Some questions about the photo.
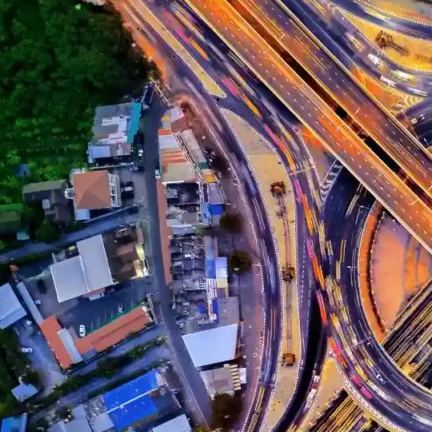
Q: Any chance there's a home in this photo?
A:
Yes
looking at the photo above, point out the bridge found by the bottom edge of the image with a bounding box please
[329,336,432,432]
